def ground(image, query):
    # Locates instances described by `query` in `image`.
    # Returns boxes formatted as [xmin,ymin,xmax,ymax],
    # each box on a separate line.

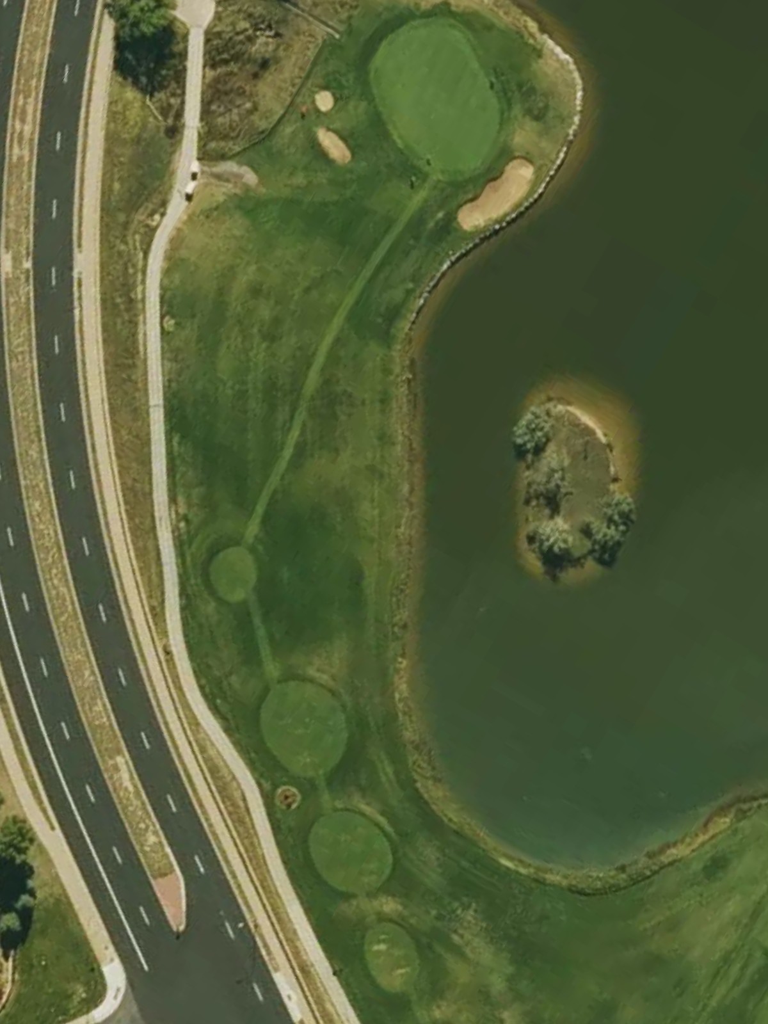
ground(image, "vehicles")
[190,159,198,173]
[185,179,196,193]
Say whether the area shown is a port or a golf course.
golf course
